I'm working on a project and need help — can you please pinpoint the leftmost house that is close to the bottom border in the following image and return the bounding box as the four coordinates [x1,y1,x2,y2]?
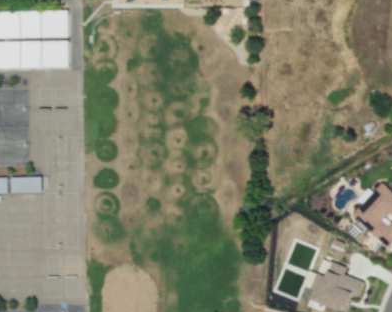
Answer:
[307,261,367,312]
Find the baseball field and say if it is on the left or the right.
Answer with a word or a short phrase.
left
